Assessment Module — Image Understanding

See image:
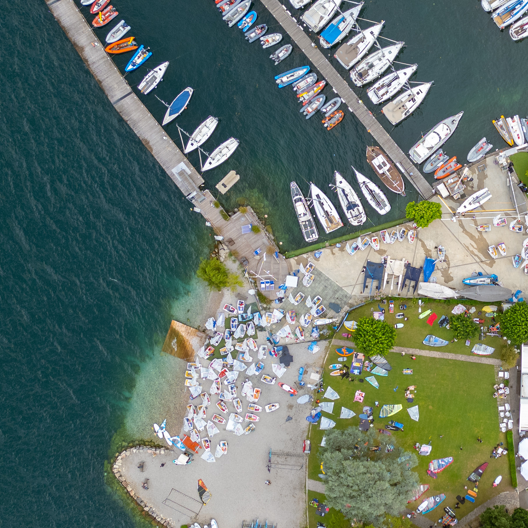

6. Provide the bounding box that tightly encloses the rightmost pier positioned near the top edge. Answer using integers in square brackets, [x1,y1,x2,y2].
[261,0,435,198]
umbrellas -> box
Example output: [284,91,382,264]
[518,437,528,459]
[519,459,528,481]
